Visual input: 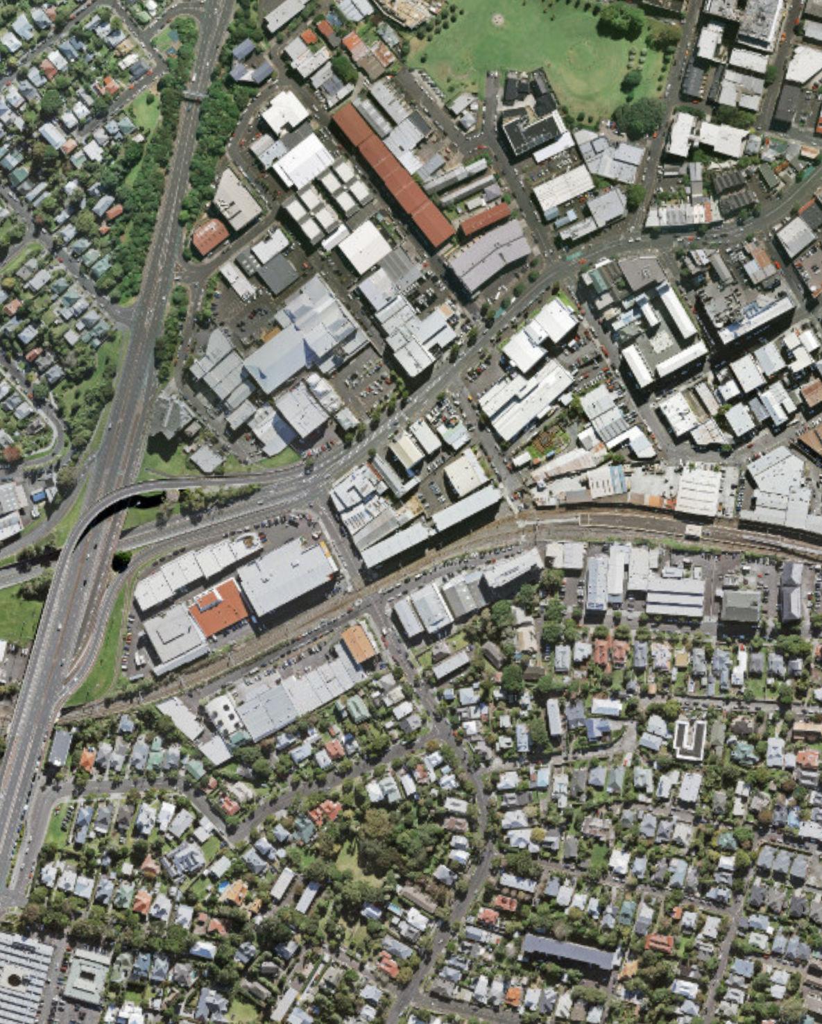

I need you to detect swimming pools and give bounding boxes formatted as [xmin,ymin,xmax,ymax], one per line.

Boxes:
[216,880,229,892]
[387,903,402,915]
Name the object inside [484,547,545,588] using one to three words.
building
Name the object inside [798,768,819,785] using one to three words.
house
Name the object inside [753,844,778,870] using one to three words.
house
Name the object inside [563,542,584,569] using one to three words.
building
